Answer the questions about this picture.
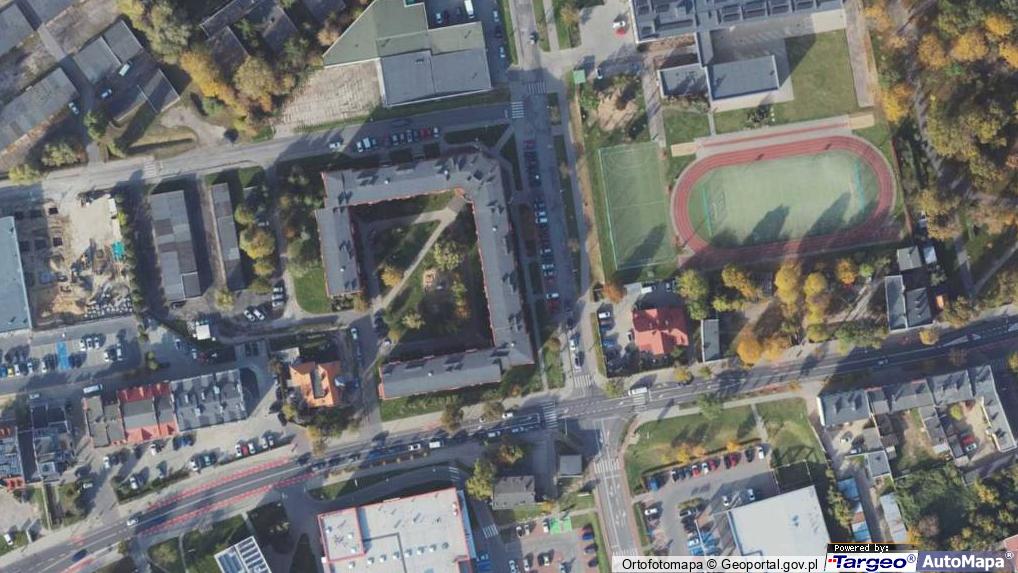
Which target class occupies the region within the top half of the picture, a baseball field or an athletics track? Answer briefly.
athletics track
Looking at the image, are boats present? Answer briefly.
No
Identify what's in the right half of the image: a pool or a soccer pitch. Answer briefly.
soccer pitch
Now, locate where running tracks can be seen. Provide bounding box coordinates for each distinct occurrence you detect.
[672,113,895,272]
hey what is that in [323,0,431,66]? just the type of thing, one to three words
building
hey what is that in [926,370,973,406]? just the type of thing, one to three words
house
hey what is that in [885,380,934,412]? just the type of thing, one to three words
house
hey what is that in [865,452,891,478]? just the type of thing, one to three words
shed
